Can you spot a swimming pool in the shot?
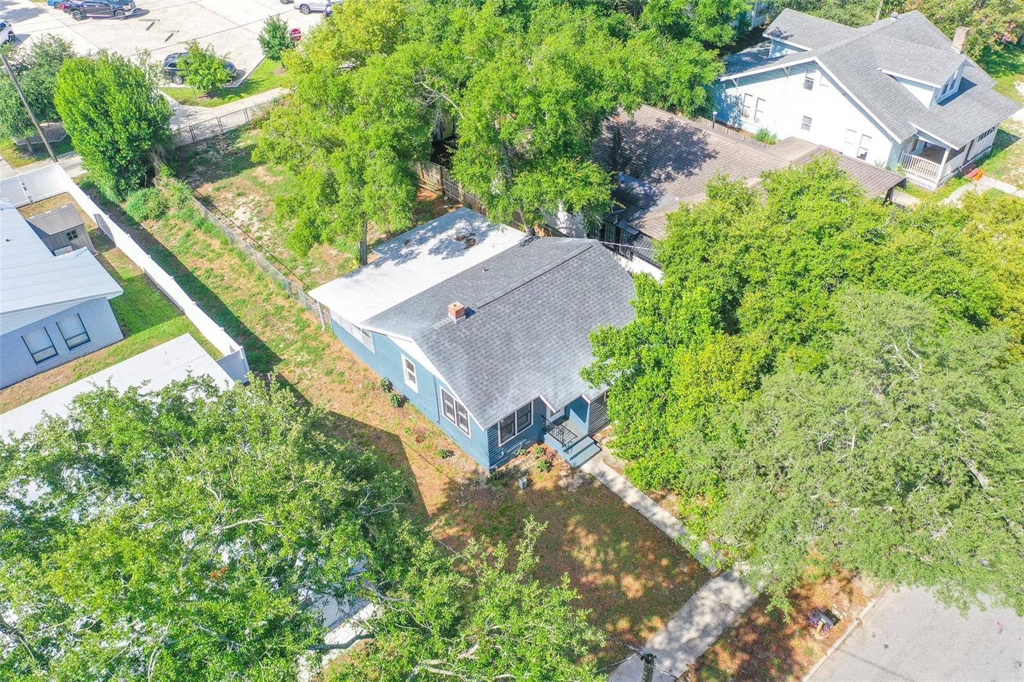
No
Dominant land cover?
trees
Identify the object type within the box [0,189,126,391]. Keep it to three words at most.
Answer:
house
